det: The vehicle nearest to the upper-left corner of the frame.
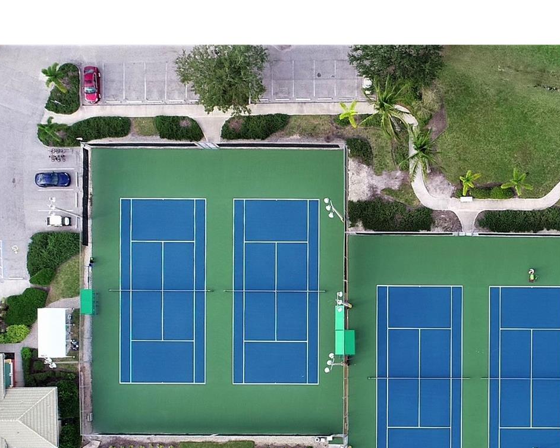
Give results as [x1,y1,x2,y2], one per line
[82,67,102,104]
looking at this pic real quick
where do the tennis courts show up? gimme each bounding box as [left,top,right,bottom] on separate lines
[219,148,343,435]
[475,235,560,448]
[348,235,475,448]
[91,148,219,435]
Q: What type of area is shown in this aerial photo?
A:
sports ground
